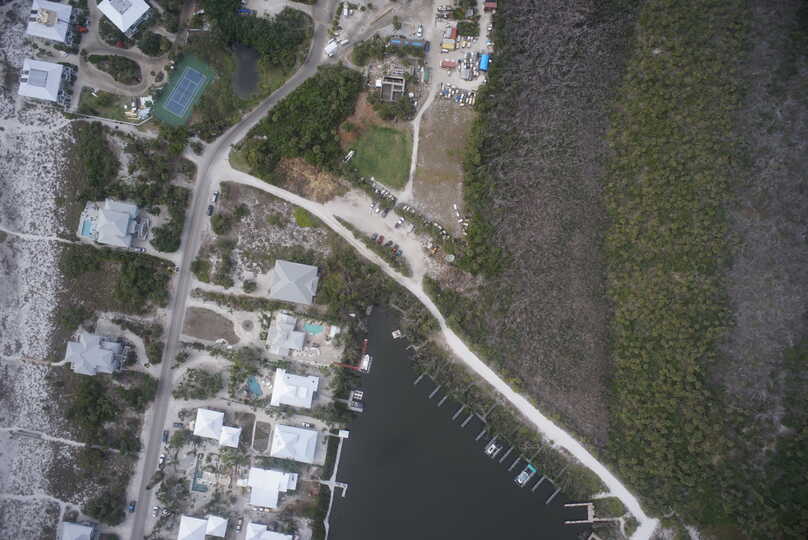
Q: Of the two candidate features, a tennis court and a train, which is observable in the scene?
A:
tennis court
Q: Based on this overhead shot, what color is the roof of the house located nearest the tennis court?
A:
white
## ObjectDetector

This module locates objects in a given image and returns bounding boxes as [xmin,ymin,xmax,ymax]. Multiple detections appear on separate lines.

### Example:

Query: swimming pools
[302,322,326,335]
[191,471,208,493]
[81,219,93,236]
[246,374,262,397]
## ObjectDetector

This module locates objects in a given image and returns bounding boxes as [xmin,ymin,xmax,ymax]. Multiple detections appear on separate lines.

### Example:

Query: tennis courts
[153,52,214,125]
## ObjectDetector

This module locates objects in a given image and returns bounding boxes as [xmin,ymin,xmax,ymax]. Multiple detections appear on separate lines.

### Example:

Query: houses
[70,332,125,375]
[194,408,241,448]
[266,313,305,356]
[178,515,228,540]
[271,424,319,463]
[98,0,159,39]
[271,368,319,408]
[18,58,77,104]
[237,467,297,508]
[268,260,319,305]
[246,522,293,540]
[26,0,85,47]
[60,518,104,540]
[97,200,148,247]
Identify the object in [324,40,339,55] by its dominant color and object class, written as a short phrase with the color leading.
white vehicle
